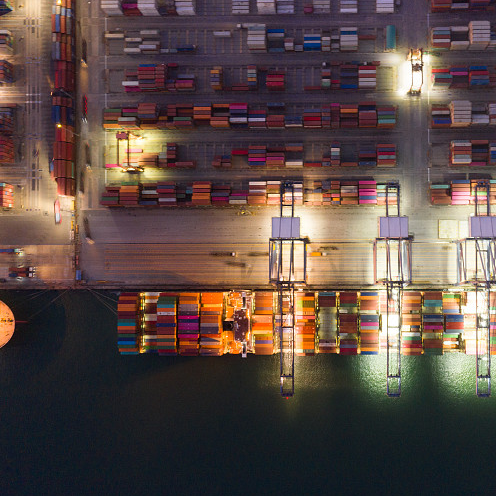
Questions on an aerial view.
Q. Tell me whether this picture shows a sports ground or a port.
port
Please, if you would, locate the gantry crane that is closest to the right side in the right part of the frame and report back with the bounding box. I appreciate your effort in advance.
[448,181,496,398]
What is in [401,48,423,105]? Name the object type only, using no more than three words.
crane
